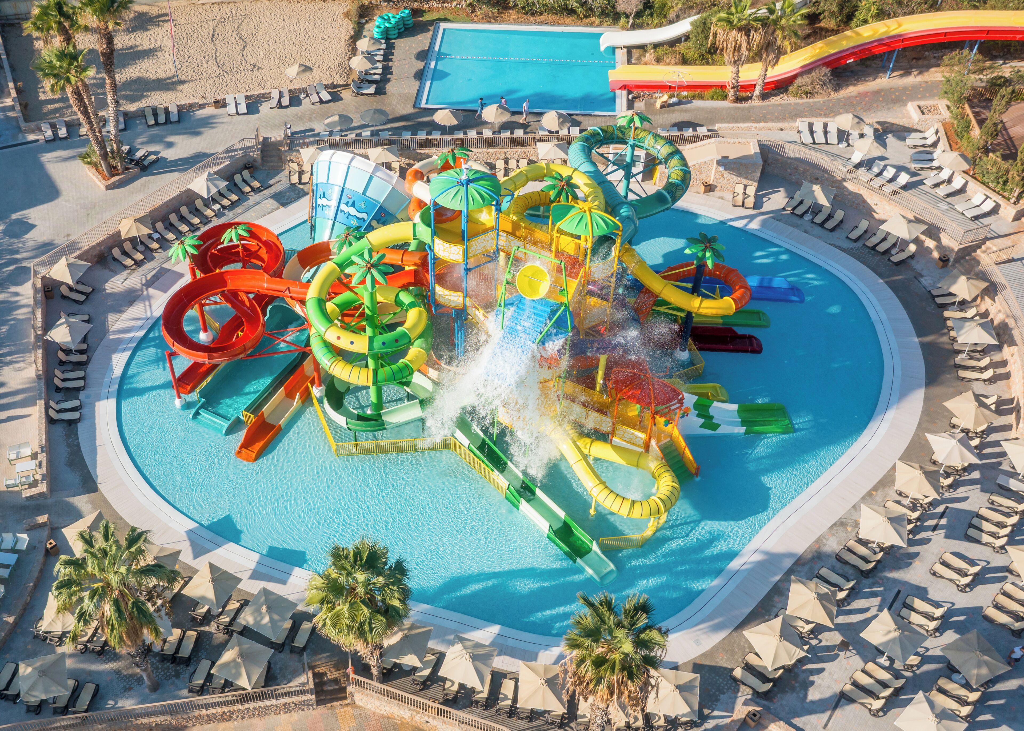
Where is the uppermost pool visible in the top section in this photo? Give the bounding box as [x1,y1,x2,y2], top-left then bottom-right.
[428,27,613,101]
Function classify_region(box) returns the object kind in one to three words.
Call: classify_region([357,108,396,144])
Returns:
umbrella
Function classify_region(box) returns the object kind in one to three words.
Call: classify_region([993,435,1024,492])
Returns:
umbrella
